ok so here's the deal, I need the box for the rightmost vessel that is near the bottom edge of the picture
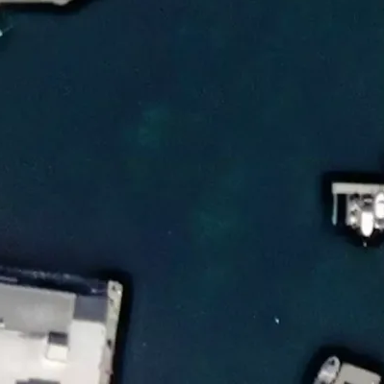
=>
[334,363,381,384]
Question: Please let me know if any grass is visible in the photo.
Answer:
No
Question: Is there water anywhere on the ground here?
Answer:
Yes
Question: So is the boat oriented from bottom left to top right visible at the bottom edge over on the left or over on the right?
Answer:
right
